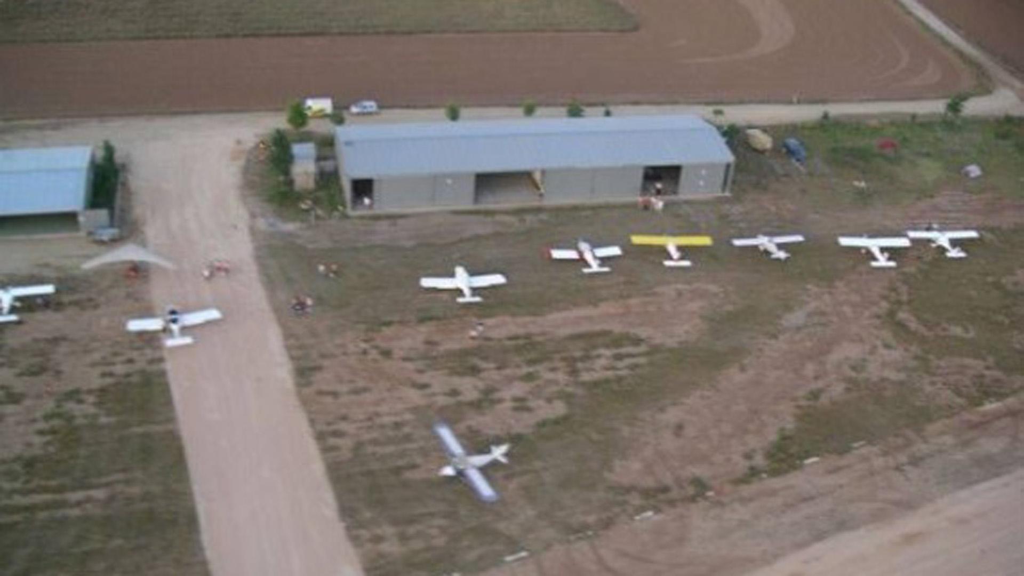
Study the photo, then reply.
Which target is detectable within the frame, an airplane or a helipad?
airplane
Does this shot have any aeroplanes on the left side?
Yes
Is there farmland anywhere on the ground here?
Yes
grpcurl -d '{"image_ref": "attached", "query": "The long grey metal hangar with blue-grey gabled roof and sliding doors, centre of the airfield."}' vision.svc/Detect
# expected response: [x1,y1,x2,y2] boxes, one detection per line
[333,113,737,214]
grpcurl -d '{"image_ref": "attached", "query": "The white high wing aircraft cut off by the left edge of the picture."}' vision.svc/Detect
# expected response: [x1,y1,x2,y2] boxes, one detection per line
[0,283,61,320]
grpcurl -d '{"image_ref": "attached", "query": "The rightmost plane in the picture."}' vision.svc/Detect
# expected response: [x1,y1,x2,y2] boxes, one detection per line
[907,229,982,258]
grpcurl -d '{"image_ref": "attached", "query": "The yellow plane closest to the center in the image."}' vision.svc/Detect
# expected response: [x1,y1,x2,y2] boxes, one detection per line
[630,237,715,267]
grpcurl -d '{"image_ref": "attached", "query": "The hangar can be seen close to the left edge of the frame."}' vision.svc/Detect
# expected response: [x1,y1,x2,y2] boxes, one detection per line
[0,147,95,240]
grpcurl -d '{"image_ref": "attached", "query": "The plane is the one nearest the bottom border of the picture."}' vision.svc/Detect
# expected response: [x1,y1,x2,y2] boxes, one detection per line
[430,423,511,500]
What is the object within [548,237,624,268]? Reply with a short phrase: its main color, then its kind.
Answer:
white airplane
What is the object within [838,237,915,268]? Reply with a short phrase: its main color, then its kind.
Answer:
white airplane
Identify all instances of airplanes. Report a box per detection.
[838,237,915,268]
[0,283,61,320]
[124,304,223,343]
[419,267,507,301]
[907,229,982,258]
[630,237,715,267]
[80,246,174,282]
[732,235,806,260]
[430,423,511,500]
[548,237,624,268]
